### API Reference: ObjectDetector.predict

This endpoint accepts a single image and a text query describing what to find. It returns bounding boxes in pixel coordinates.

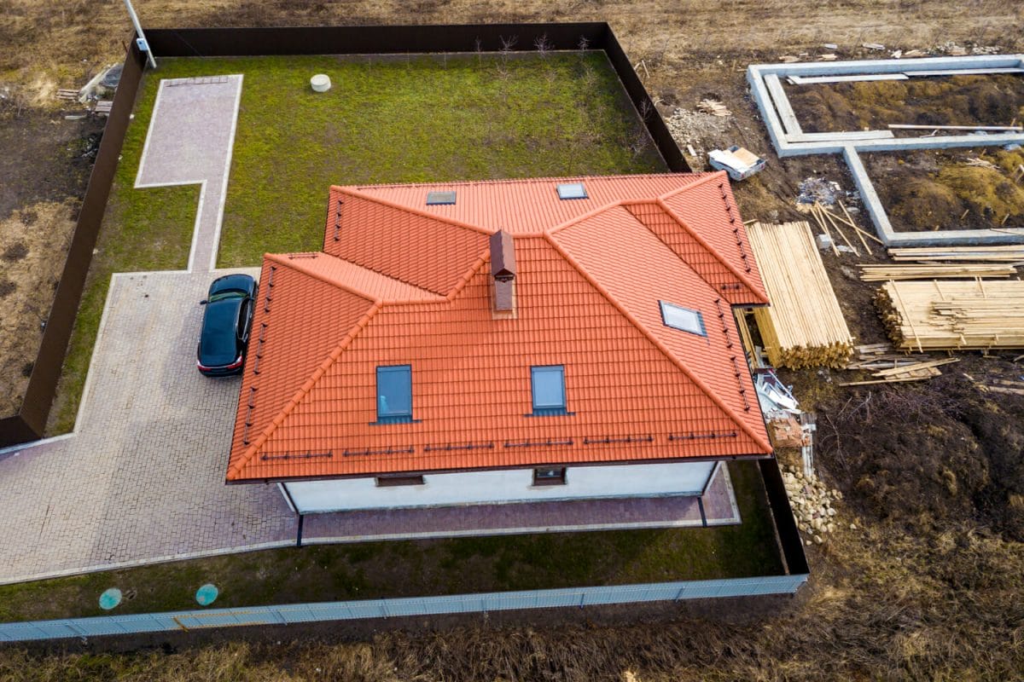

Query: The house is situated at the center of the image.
[219,166,779,519]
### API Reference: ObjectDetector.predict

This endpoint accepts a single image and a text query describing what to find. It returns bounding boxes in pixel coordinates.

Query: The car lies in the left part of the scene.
[195,269,258,376]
